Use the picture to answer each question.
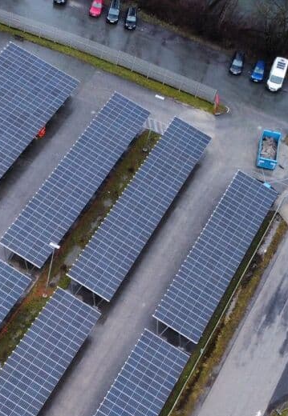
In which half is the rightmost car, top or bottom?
top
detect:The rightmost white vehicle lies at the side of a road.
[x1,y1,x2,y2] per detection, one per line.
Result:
[267,58,288,91]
